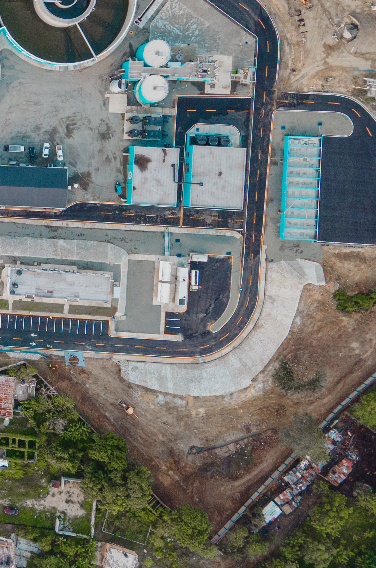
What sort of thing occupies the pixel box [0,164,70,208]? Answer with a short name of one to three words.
building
